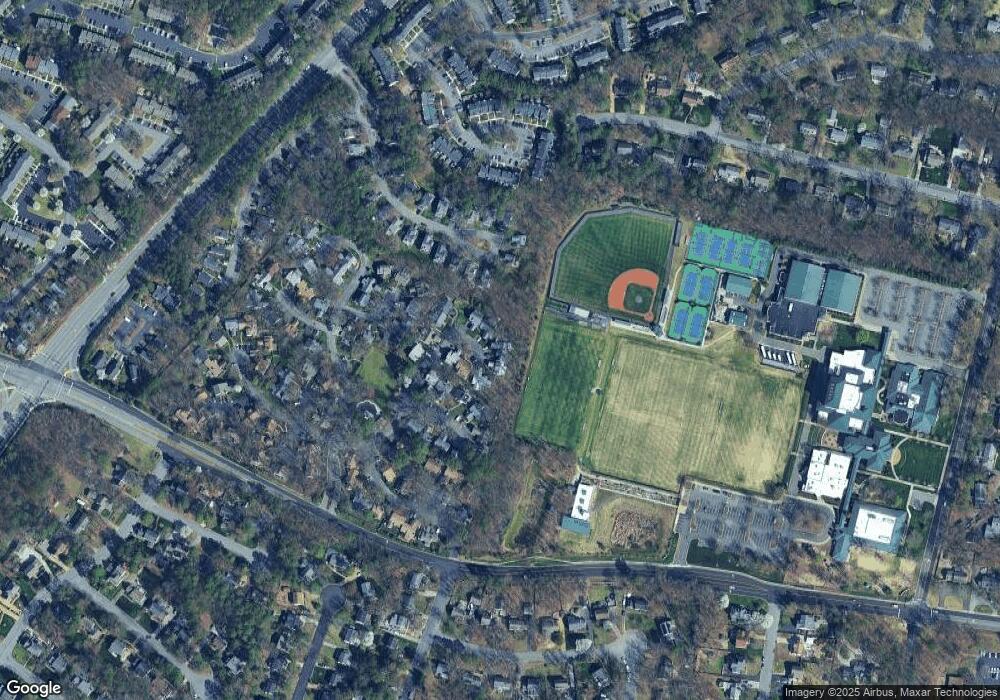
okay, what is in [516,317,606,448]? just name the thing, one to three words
soccer field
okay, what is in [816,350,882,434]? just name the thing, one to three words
building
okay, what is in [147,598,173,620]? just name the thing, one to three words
house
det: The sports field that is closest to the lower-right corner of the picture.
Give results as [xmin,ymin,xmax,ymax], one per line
[584,336,803,490]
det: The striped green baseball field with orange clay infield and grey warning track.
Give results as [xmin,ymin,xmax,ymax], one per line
[550,207,676,333]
